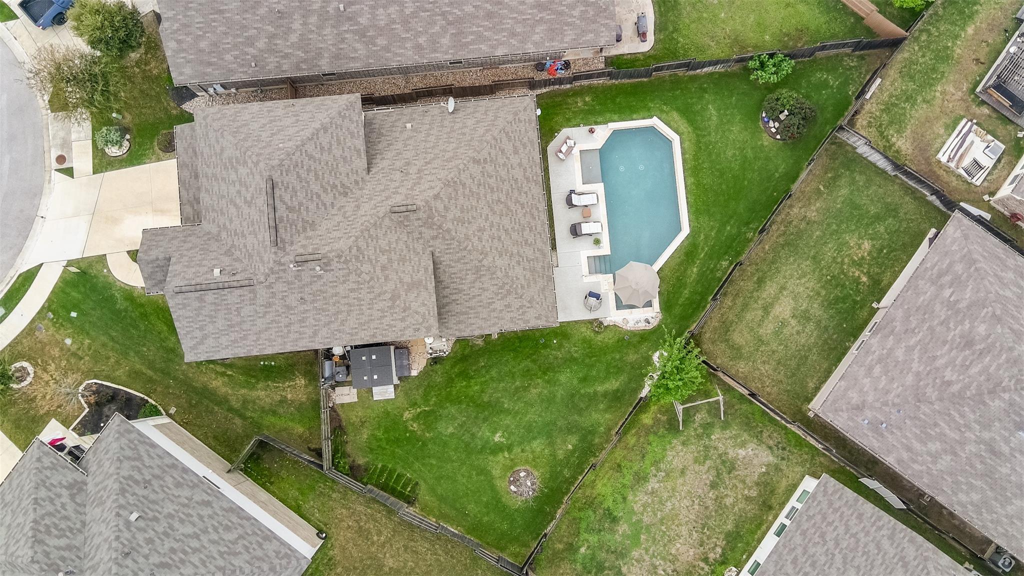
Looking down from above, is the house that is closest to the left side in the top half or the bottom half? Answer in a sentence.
The house that is closest to the left side sits in the bottom half of the picture.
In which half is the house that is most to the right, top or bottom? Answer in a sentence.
The house that is most to the right is in the top half of the image.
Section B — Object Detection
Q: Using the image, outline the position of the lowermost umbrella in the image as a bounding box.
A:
[614,261,660,307]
